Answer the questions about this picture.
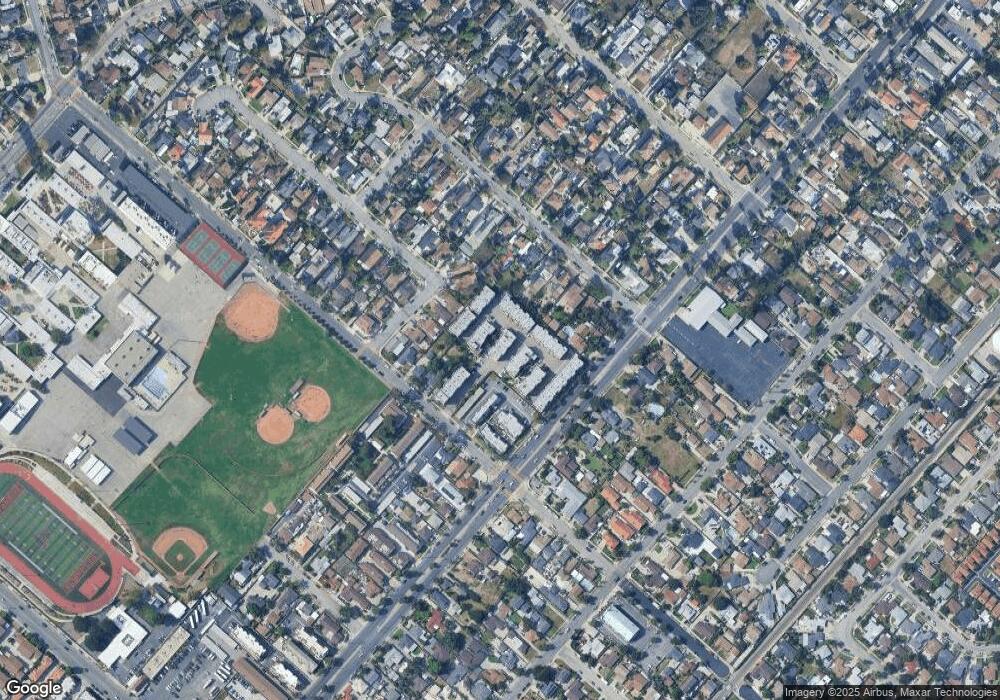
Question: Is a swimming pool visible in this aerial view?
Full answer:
No, there's no swimming pool here.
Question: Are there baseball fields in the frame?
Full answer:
Yes, there's a baseball field here.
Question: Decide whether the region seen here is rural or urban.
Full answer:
From above, the setting appears urban.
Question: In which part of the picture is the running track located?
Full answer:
The running track is located in the bottom left region of the scene.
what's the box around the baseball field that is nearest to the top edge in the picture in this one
[225,280,280,342]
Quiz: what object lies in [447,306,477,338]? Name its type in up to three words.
building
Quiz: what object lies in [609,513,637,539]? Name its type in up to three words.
house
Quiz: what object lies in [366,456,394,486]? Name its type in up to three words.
building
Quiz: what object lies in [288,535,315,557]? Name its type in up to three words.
house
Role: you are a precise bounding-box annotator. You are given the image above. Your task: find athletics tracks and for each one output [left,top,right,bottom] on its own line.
[0,461,137,614]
